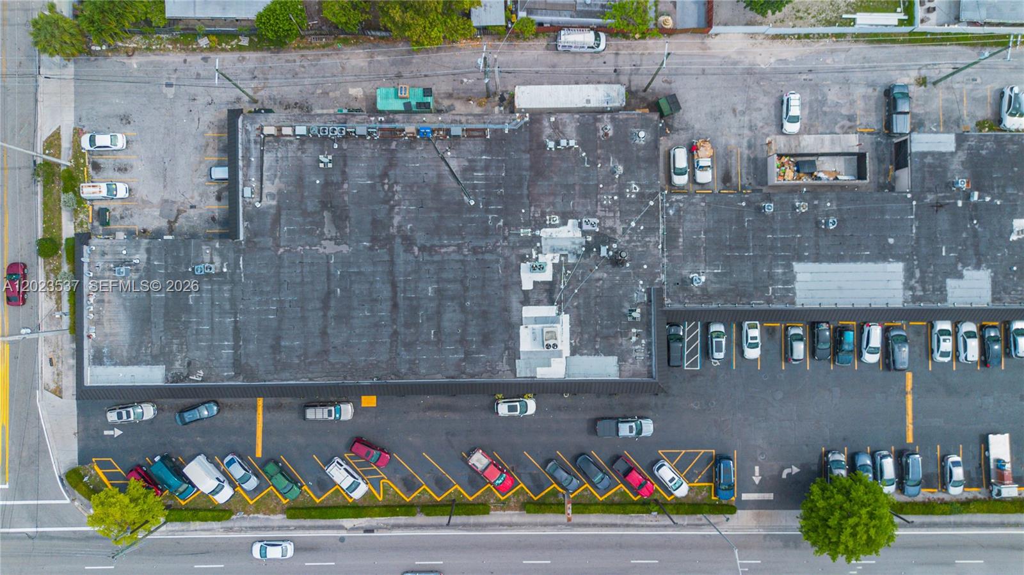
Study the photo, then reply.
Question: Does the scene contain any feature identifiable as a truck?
Yes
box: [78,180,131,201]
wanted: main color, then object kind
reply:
white vehicle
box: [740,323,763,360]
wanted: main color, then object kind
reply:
white car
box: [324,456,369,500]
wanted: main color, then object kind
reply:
white car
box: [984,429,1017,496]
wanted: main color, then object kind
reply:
white truck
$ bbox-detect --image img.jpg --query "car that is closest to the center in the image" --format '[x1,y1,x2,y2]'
[495,396,537,418]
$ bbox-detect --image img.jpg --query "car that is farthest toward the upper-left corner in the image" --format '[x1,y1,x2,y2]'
[82,131,129,152]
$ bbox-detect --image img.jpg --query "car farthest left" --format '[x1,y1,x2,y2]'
[3,263,30,305]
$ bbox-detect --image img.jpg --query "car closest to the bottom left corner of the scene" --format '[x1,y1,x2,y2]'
[124,461,168,502]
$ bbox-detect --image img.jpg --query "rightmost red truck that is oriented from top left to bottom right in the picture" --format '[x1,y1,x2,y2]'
[608,452,656,500]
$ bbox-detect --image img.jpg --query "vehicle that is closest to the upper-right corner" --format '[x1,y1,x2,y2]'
[998,85,1024,132]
